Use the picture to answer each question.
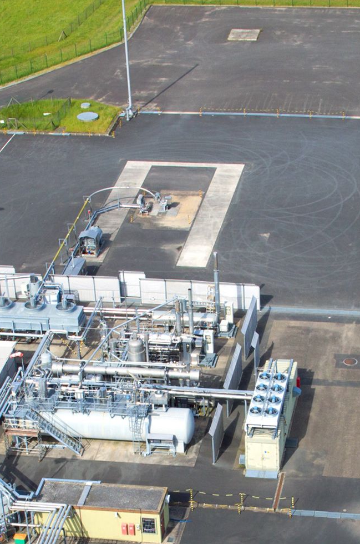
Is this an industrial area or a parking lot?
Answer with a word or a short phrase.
industrial area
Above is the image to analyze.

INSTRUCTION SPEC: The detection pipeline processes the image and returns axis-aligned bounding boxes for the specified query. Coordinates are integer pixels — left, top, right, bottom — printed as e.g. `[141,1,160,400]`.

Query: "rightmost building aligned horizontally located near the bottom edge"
[31,469,174,543]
